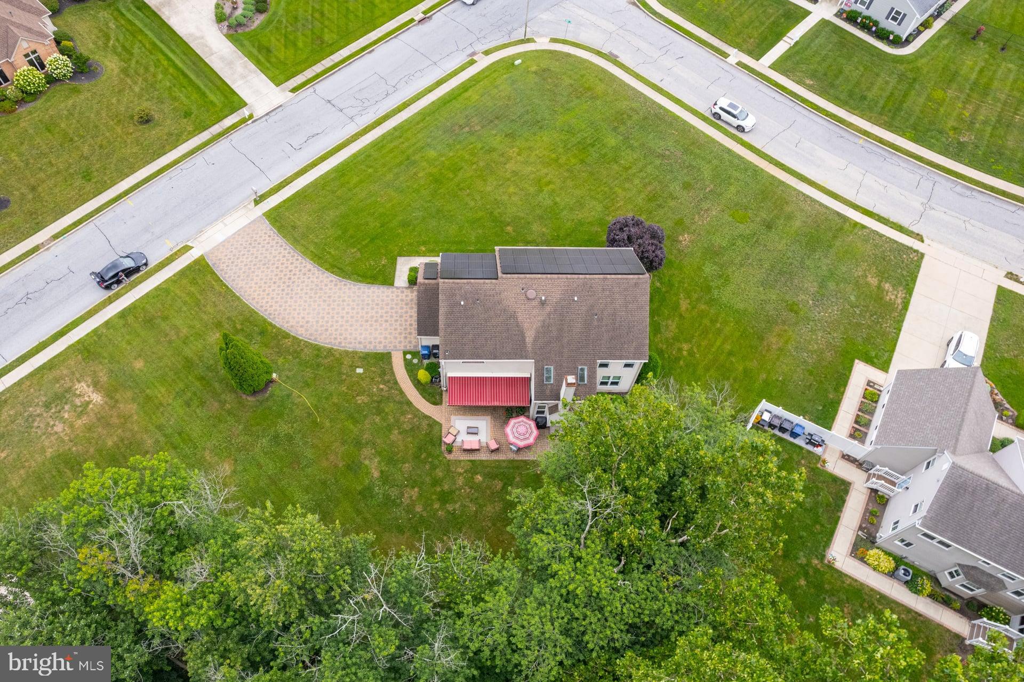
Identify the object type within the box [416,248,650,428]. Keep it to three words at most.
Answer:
house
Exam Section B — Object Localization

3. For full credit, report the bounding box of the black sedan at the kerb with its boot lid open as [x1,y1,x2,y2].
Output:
[85,250,150,292]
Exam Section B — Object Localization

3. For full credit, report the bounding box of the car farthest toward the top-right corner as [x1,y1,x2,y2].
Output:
[711,95,759,133]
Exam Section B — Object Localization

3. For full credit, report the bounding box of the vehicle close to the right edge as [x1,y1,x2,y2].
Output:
[939,328,978,369]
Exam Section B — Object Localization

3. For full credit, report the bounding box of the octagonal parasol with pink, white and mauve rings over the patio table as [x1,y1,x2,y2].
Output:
[505,415,539,447]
